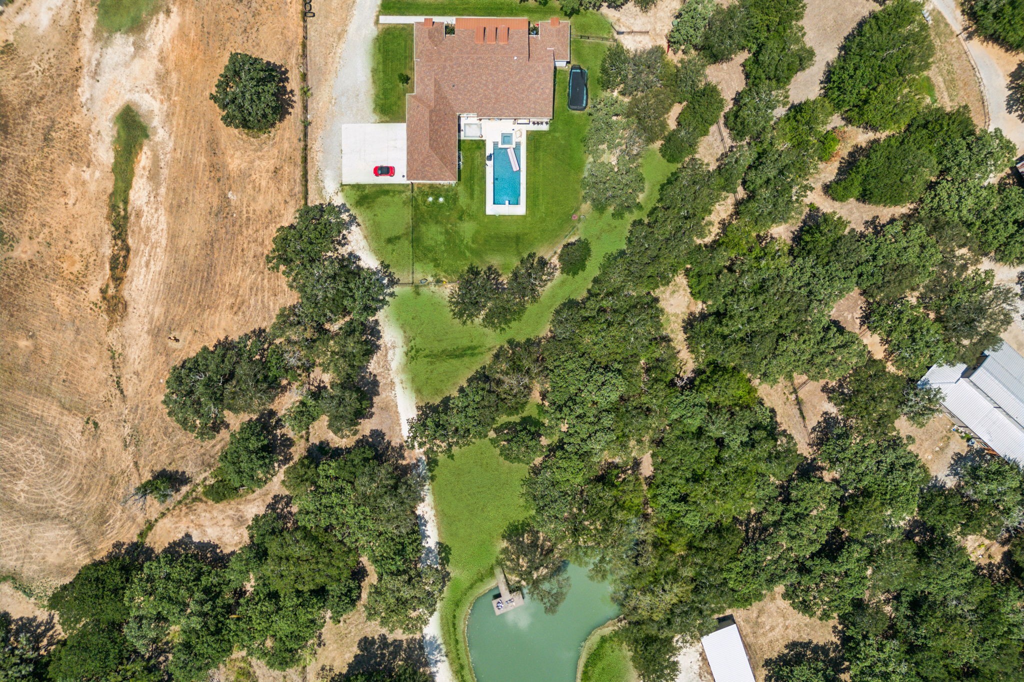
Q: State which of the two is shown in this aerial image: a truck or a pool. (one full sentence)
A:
The image shows a pool.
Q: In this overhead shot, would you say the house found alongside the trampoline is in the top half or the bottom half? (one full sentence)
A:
You can find the house found alongside the trampoline in the top half.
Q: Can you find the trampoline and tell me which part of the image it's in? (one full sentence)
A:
The trampoline is located in the top region of the scene.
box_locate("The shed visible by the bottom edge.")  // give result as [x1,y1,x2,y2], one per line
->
[696,616,756,682]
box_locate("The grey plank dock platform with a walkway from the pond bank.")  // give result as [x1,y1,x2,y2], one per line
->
[492,565,524,616]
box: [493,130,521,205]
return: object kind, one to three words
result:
swimming pool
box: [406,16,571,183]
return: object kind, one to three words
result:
house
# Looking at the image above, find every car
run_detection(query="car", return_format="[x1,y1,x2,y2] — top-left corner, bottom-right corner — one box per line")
[374,165,395,177]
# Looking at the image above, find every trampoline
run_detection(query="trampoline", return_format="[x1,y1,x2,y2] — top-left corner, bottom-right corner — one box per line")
[569,65,589,111]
